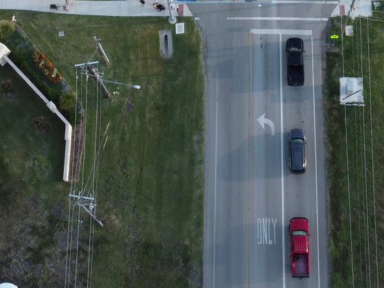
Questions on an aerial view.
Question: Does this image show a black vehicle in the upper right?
Yes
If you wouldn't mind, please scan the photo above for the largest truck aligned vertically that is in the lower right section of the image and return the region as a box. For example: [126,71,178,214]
[287,217,311,278]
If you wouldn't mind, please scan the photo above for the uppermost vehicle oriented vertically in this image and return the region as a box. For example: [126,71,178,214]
[284,38,306,88]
